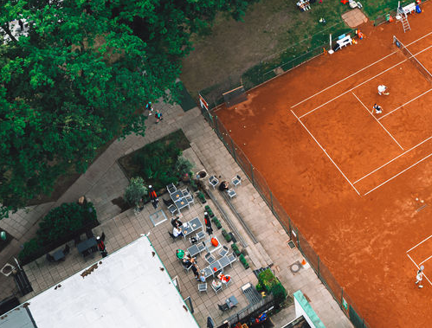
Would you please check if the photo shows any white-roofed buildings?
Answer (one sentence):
Yes, a white-roofed building appears in the view.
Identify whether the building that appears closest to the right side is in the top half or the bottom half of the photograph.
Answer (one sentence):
You can find the building that appears closest to the right side in the bottom half.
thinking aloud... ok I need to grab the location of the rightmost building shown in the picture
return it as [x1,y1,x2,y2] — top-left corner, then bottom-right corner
[275,289,324,328]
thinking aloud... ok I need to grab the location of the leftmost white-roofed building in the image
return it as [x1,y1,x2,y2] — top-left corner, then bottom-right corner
[0,227,202,328]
